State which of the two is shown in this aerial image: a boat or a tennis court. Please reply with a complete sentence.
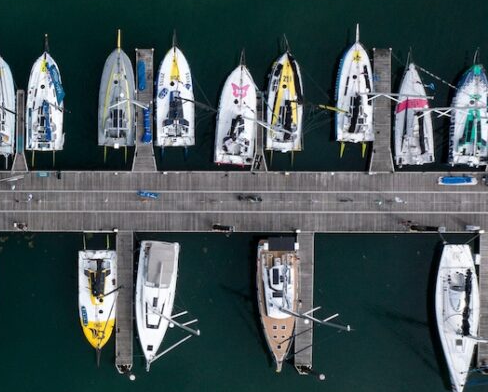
It is a boat that can be seen here.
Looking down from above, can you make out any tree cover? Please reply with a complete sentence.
No, there is no tree cover in the image.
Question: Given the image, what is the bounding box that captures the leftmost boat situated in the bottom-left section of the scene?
[76,233,124,367]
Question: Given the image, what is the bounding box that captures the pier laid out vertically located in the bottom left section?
[114,231,135,374]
